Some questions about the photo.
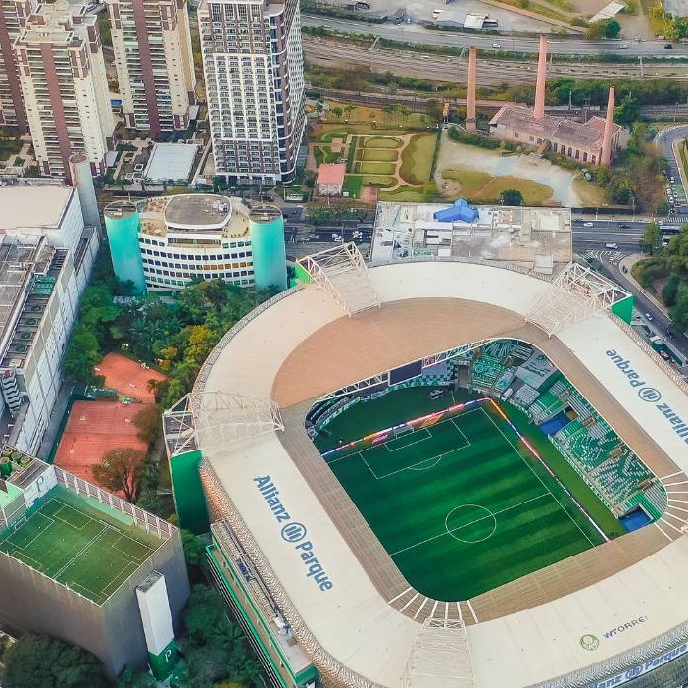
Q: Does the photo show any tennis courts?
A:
Yes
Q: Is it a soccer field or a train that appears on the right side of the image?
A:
soccer field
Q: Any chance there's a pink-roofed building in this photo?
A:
Yes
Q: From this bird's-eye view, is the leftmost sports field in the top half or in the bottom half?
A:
bottom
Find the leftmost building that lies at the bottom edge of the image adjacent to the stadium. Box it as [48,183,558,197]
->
[0,458,188,679]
